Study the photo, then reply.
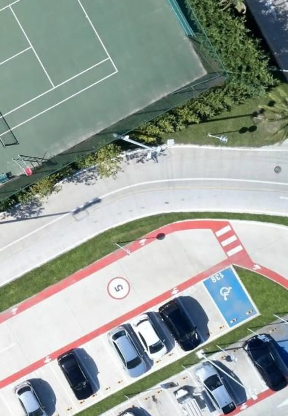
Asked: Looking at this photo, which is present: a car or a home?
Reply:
car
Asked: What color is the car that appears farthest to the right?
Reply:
black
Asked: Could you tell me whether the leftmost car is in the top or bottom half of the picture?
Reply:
bottom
